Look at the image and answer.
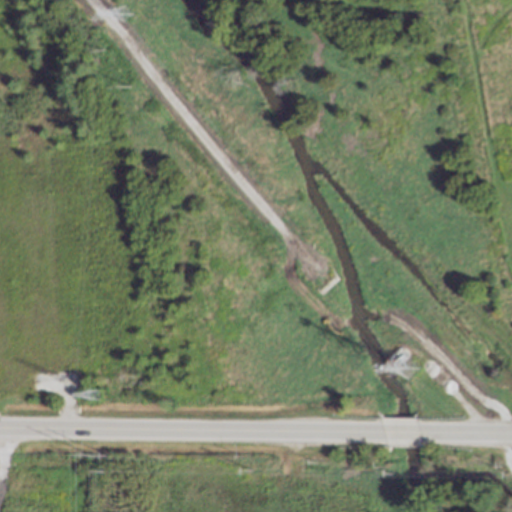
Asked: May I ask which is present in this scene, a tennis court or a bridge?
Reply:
bridge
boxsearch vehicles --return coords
[75,430,90,438]
[322,318,336,329]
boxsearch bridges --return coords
[380,412,426,454]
